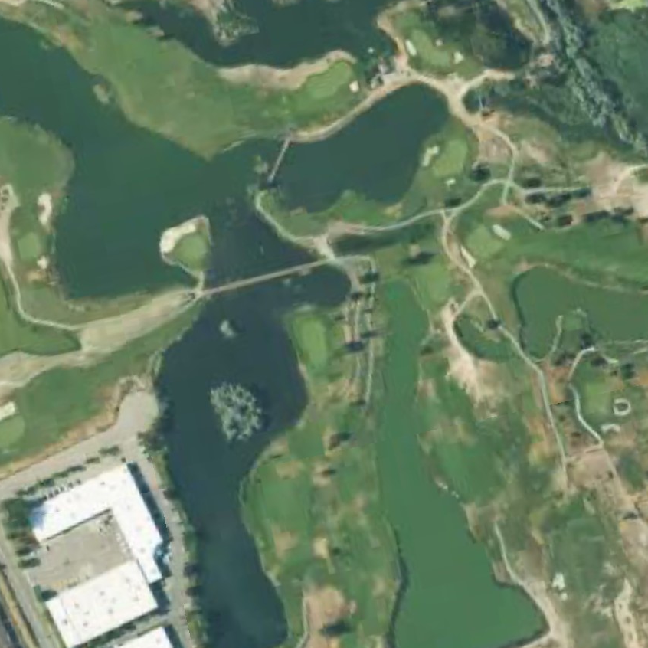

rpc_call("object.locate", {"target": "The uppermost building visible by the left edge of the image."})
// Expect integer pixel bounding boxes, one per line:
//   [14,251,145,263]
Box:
[31,465,162,583]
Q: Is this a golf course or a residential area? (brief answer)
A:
golf course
